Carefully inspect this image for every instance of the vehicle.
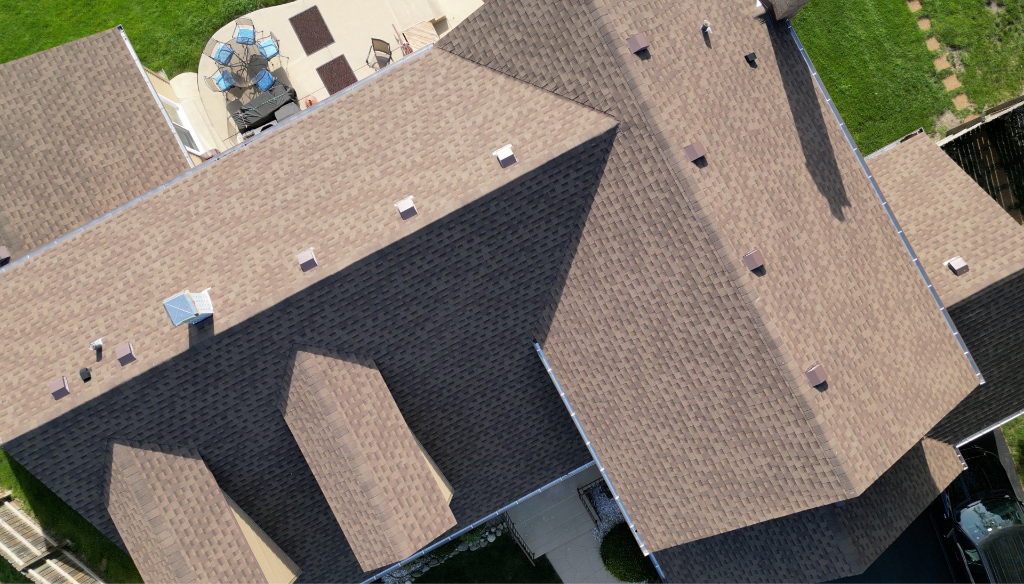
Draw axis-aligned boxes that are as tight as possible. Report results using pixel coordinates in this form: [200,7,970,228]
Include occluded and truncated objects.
[932,440,1024,584]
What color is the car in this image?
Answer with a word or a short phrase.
black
